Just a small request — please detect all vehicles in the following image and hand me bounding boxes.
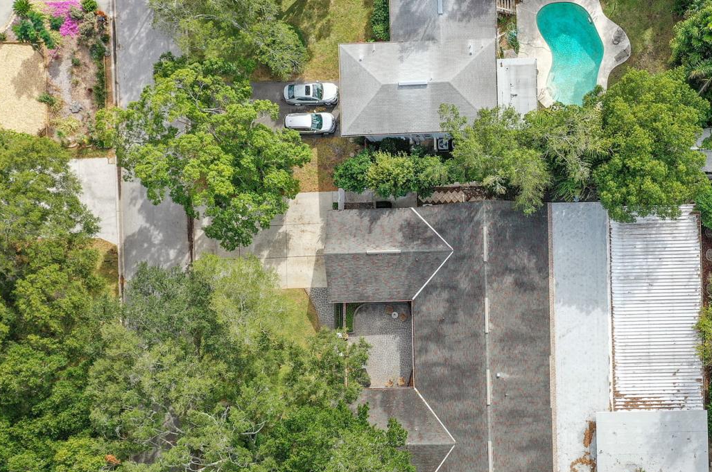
[283,78,337,105]
[285,109,336,135]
